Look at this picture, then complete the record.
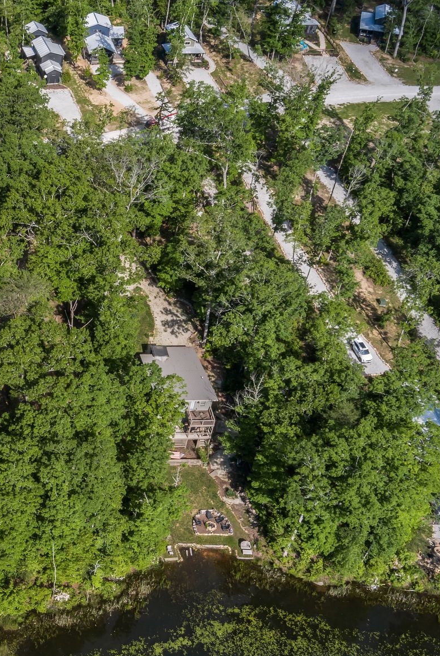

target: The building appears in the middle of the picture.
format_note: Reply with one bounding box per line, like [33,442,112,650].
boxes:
[137,343,217,422]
